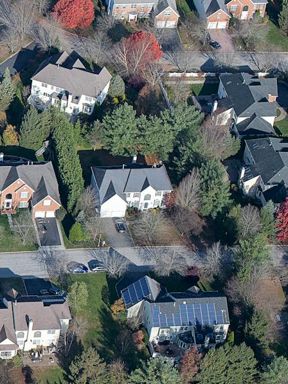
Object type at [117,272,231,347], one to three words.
house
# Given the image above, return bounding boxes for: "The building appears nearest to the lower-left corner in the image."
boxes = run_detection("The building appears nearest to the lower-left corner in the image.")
[0,285,72,359]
